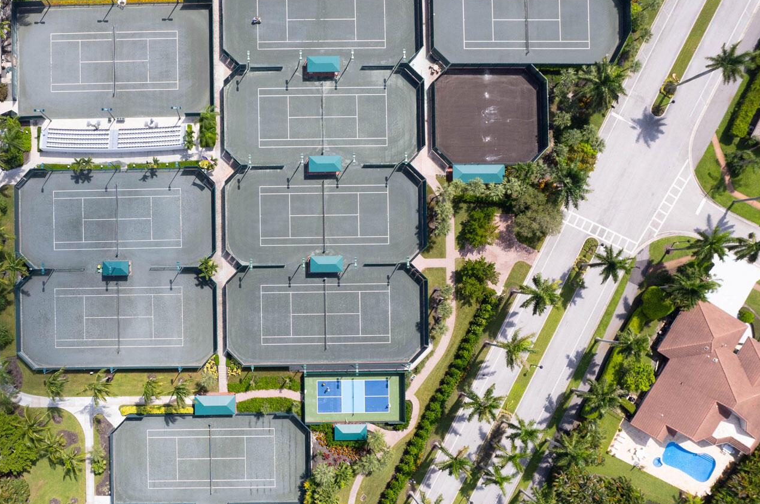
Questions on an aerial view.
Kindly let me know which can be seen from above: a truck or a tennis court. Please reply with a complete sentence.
I can see a tennis court in this picture.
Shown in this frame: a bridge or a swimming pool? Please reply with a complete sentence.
Visible in the photo is a swimming pool.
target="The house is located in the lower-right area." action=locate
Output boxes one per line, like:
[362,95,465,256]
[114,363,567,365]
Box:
[630,301,760,455]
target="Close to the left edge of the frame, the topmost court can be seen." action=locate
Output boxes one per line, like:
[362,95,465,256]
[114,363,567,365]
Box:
[18,3,214,120]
